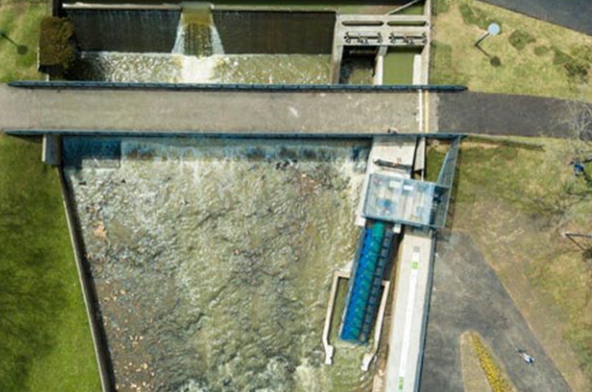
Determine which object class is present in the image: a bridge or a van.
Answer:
bridge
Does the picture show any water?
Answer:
Yes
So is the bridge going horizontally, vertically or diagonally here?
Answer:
horizontally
